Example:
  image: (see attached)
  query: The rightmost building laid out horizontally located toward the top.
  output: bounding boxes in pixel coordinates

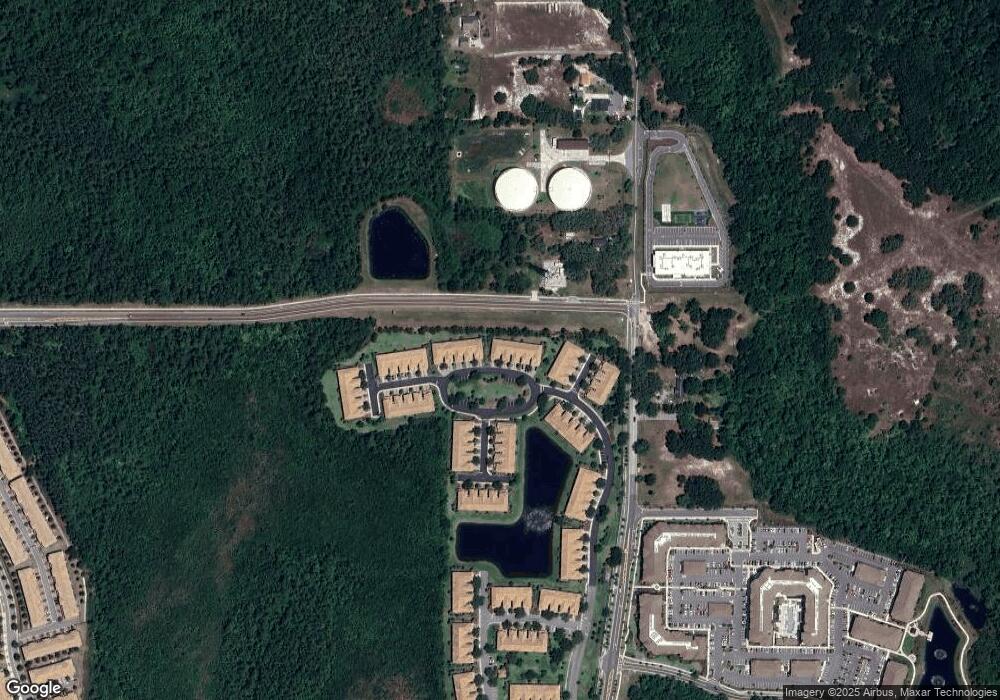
[655,251,710,277]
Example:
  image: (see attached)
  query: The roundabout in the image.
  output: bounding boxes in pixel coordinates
[439,368,537,419]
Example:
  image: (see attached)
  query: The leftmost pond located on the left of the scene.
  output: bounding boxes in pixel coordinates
[368,206,430,279]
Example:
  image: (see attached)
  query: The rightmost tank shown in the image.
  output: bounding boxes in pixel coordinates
[547,166,593,212]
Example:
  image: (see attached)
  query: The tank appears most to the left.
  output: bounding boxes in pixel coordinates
[494,167,539,212]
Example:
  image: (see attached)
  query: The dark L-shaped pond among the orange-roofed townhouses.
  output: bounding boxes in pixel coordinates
[455,427,574,579]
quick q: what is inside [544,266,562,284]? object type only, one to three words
building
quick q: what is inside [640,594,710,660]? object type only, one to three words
building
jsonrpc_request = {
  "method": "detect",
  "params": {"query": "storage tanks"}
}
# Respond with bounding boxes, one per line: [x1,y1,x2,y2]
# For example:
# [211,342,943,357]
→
[494,167,539,212]
[547,166,593,212]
